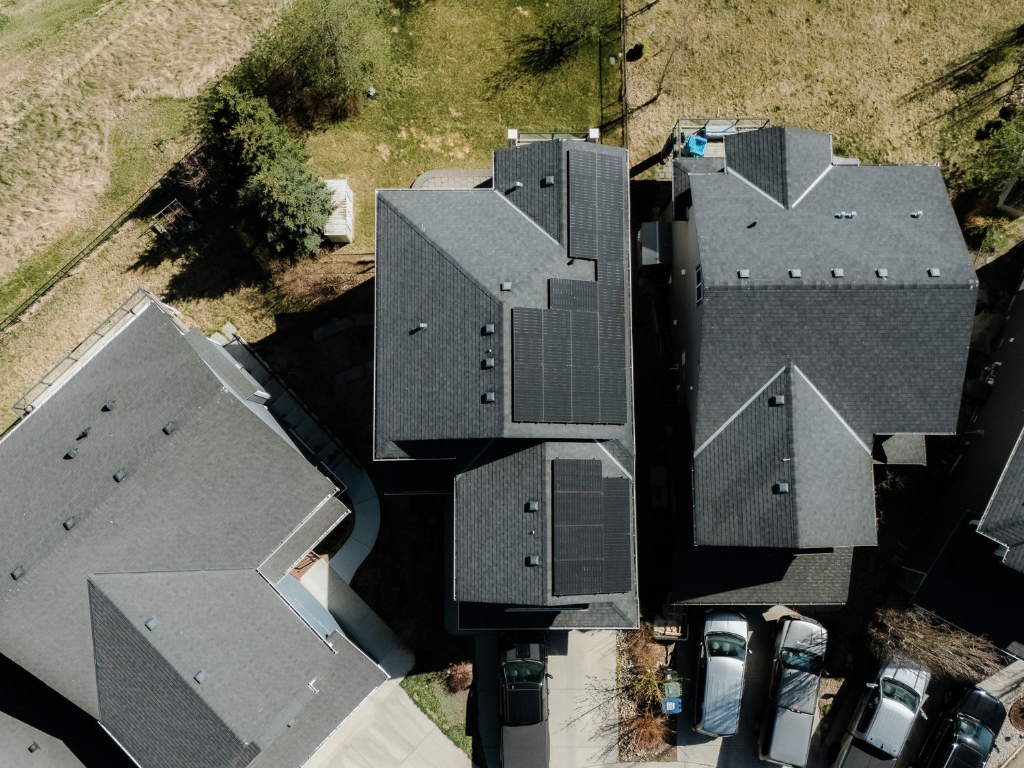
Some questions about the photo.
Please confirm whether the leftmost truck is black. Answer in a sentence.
Yes, the leftmost truck appears black.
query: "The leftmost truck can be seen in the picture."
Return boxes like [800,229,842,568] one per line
[493,630,556,768]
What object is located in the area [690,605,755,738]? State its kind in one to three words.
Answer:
car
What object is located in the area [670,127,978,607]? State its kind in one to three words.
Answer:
house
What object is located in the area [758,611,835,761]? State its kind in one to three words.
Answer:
truck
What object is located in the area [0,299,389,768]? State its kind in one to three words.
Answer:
house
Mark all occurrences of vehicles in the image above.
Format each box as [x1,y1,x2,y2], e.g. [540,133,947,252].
[690,605,755,738]
[758,611,835,761]
[493,630,556,768]
[828,646,933,768]
[917,679,1005,768]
